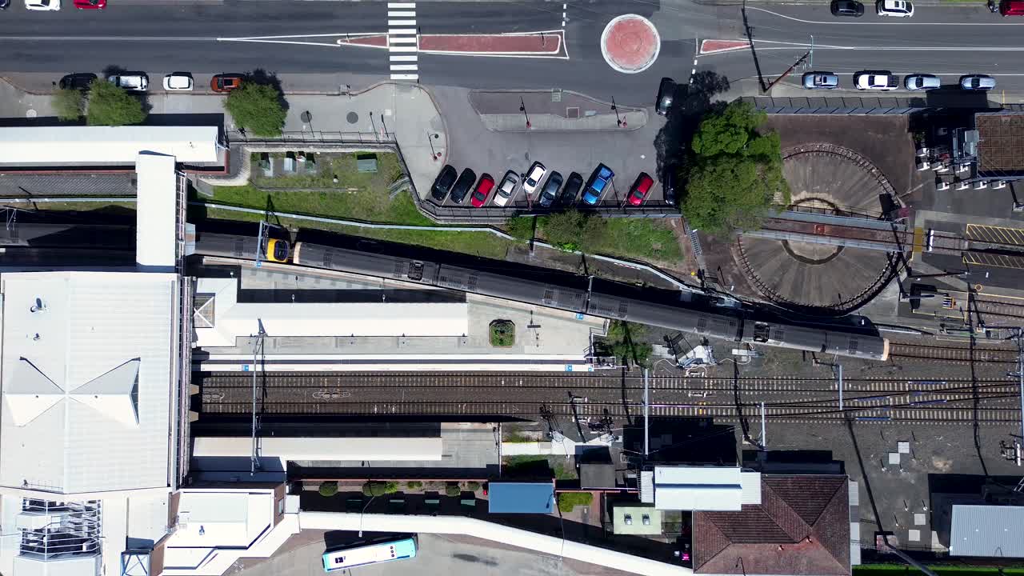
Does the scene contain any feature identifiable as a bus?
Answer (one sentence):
Yes, a bus appears in the view.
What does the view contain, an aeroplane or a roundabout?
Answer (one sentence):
I can see a roundabout in this picture.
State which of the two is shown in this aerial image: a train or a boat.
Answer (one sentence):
It is a train that can be seen here.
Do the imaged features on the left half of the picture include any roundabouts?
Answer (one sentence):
No, I can find no roundabout on the left half of the picture.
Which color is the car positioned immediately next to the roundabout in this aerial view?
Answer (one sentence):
The car positioned immediately next to the roundabout looks black in the image.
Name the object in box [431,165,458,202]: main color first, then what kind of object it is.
black car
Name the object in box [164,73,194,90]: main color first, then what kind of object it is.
white car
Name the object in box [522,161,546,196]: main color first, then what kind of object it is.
white car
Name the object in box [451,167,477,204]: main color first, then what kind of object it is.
black car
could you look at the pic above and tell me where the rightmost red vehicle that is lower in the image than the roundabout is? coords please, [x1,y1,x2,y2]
[628,173,654,207]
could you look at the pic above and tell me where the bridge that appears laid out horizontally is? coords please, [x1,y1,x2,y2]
[723,206,912,252]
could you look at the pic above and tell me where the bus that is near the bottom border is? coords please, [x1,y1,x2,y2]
[322,532,421,572]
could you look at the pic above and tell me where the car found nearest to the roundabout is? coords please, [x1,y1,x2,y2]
[655,77,676,116]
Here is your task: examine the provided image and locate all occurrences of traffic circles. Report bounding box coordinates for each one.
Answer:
[601,14,660,73]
